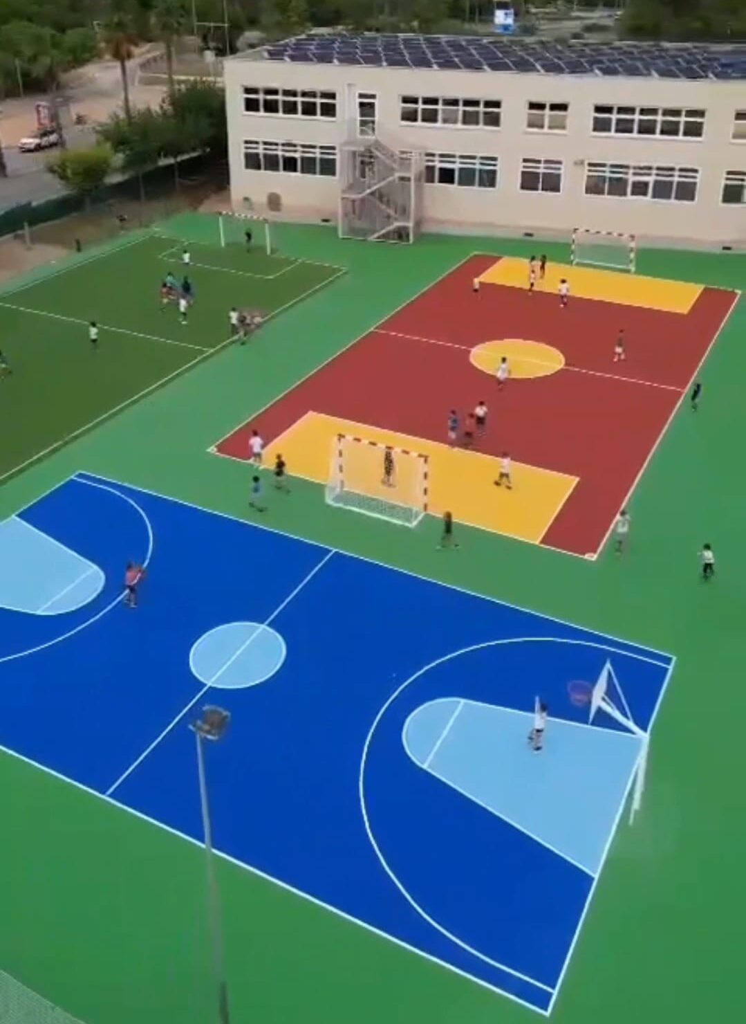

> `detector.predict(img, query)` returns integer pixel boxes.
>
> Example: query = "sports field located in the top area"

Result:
[0,233,351,483]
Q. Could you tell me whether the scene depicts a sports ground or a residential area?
sports ground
